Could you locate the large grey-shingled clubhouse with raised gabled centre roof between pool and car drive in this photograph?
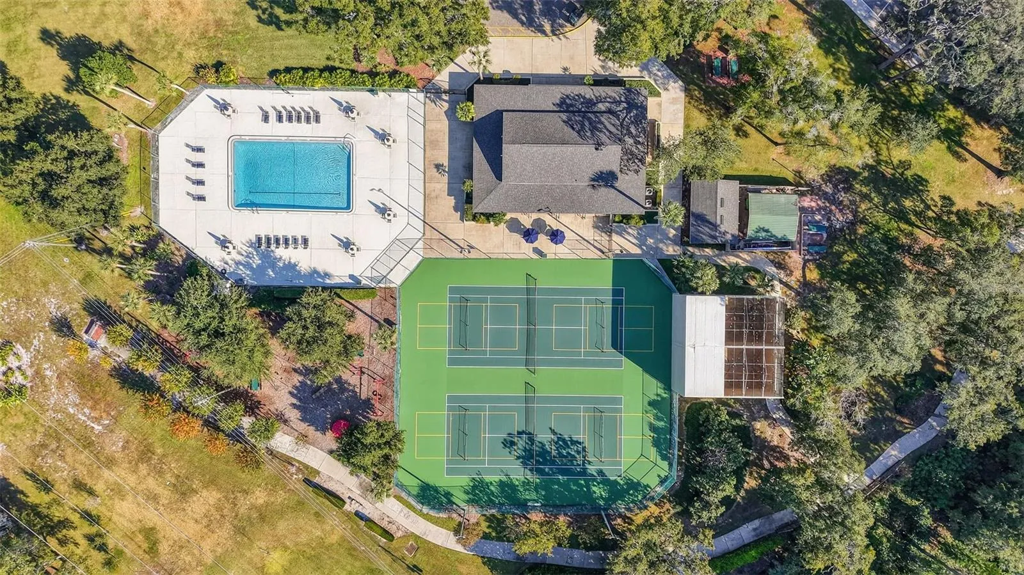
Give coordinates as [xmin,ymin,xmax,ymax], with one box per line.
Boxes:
[473,85,647,213]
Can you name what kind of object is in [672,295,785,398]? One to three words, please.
sports court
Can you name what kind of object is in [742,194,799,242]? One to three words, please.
building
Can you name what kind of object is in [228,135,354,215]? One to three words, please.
swimming pool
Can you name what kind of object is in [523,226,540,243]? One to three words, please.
umbrella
